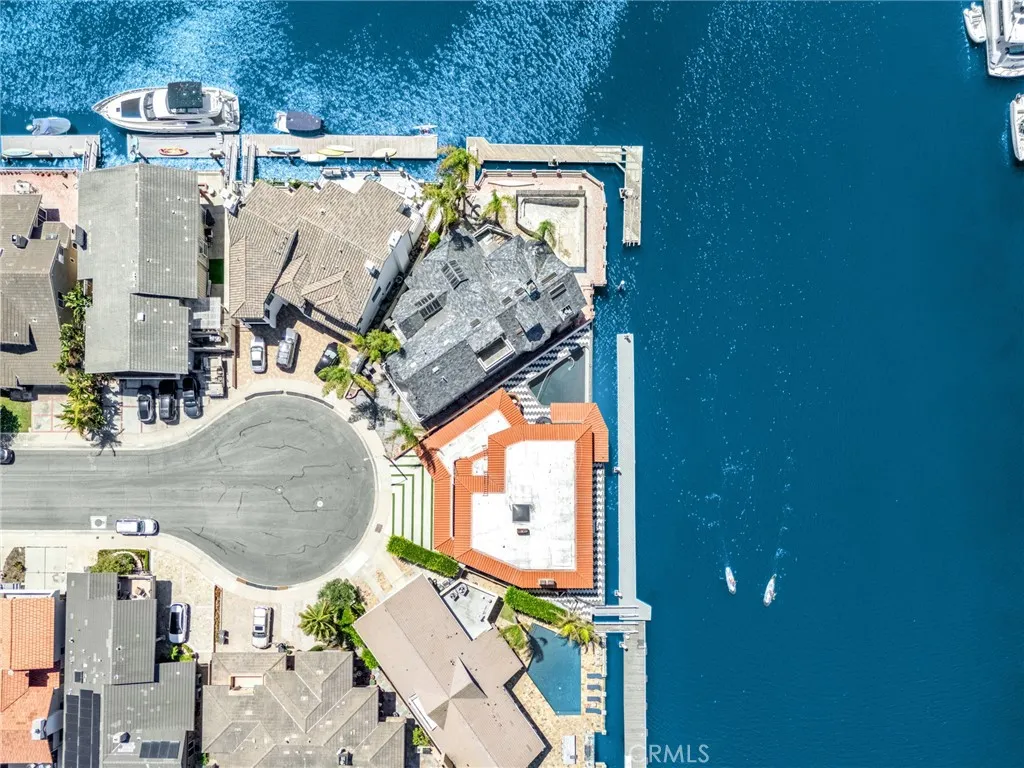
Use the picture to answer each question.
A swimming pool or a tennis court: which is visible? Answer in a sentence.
Of the two, only a swimming pool appears.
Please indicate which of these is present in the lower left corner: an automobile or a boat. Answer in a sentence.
There is an automobile in the lower left corner.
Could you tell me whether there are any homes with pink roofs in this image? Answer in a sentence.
No, no home with a pink roof is visible in the view.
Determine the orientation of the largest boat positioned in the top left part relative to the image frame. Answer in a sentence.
The largest boat positioned in the top left part runs horizontally in the image.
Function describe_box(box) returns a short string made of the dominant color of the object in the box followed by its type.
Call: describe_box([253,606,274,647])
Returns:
white car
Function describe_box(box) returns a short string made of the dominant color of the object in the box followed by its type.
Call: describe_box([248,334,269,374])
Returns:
white car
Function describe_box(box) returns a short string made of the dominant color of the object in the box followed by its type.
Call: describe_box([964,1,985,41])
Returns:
white boat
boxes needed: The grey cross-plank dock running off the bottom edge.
[623,620,647,768]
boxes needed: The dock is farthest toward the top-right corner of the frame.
[623,146,643,246]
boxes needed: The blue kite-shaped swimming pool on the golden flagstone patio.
[524,620,583,716]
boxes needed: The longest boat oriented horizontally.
[90,84,243,134]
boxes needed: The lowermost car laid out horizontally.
[118,516,160,536]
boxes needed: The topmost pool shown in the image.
[514,190,589,273]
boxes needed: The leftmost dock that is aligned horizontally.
[1,135,102,159]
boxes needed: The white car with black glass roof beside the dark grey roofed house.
[170,602,192,641]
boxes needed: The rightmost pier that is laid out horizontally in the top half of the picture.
[466,137,626,173]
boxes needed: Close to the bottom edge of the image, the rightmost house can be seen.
[353,574,545,768]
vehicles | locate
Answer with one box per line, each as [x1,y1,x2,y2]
[170,602,192,641]
[248,334,269,374]
[312,340,340,378]
[350,351,369,374]
[182,377,203,417]
[253,606,274,647]
[136,386,157,422]
[118,516,160,536]
[156,380,179,421]
[276,328,301,371]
